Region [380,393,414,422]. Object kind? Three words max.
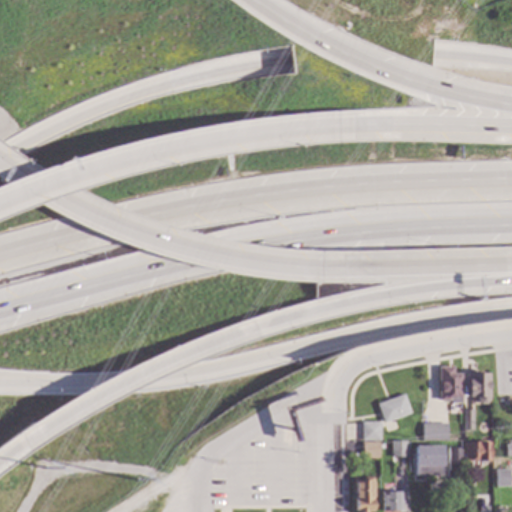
house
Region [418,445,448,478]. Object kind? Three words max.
house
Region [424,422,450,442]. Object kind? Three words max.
building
